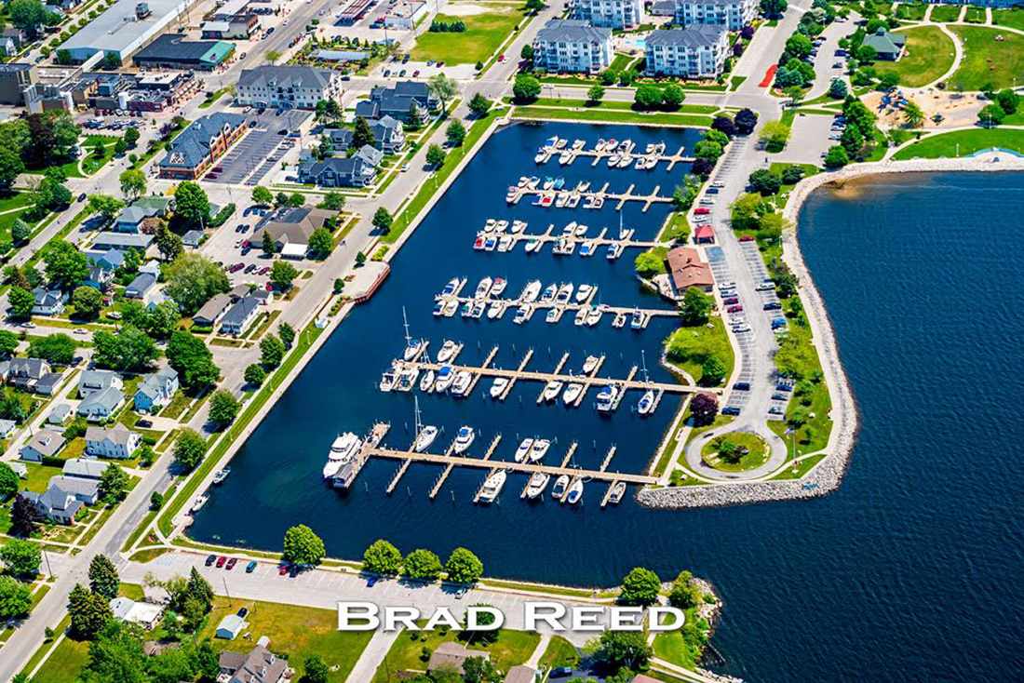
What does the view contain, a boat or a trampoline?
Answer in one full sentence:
It is a boat that can be seen here.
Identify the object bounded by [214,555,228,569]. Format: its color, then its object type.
red car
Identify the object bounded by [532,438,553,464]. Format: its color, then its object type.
white boat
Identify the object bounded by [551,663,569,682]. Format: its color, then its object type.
blue vehicle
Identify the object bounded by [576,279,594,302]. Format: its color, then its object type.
white boat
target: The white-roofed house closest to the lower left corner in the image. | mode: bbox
[110,598,166,633]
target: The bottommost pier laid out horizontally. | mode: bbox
[367,430,659,509]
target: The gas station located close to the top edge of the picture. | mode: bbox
[336,0,379,29]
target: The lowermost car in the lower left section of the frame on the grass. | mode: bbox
[235,605,250,619]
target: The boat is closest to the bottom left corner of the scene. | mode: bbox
[192,490,212,513]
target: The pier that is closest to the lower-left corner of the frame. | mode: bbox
[336,422,394,491]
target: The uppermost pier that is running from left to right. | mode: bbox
[542,138,695,172]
